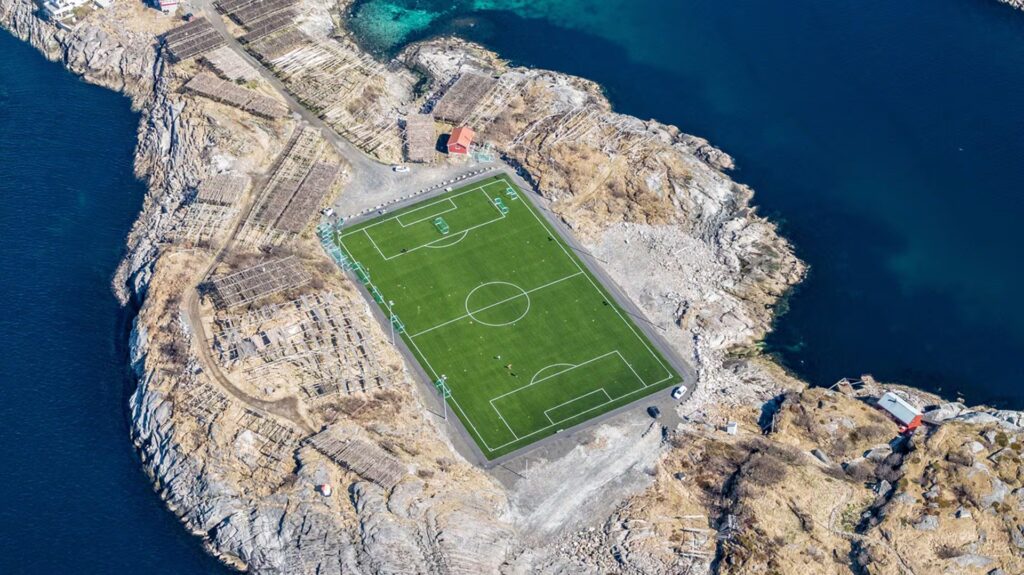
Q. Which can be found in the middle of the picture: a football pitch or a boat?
football pitch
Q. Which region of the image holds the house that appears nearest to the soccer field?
top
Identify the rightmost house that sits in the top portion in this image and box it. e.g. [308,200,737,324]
[448,127,473,155]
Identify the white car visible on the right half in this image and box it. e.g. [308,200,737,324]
[674,385,687,398]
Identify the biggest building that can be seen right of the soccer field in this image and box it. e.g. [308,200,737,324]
[878,393,924,433]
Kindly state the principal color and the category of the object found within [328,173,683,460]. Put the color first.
green soccer field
